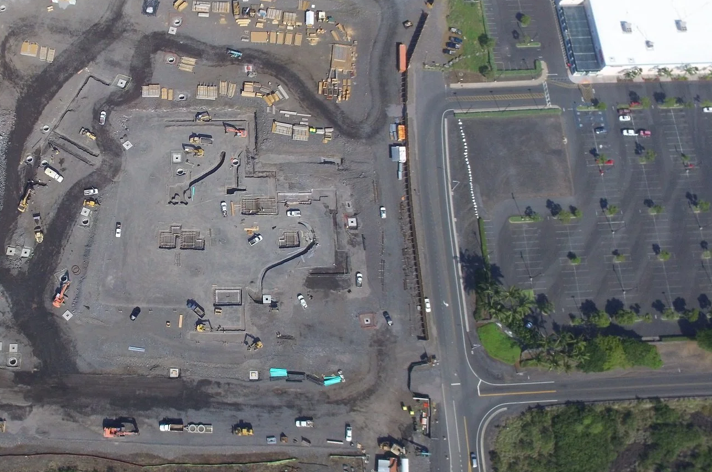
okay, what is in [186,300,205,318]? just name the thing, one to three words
vehicle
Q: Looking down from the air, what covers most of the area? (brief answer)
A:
paved ground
